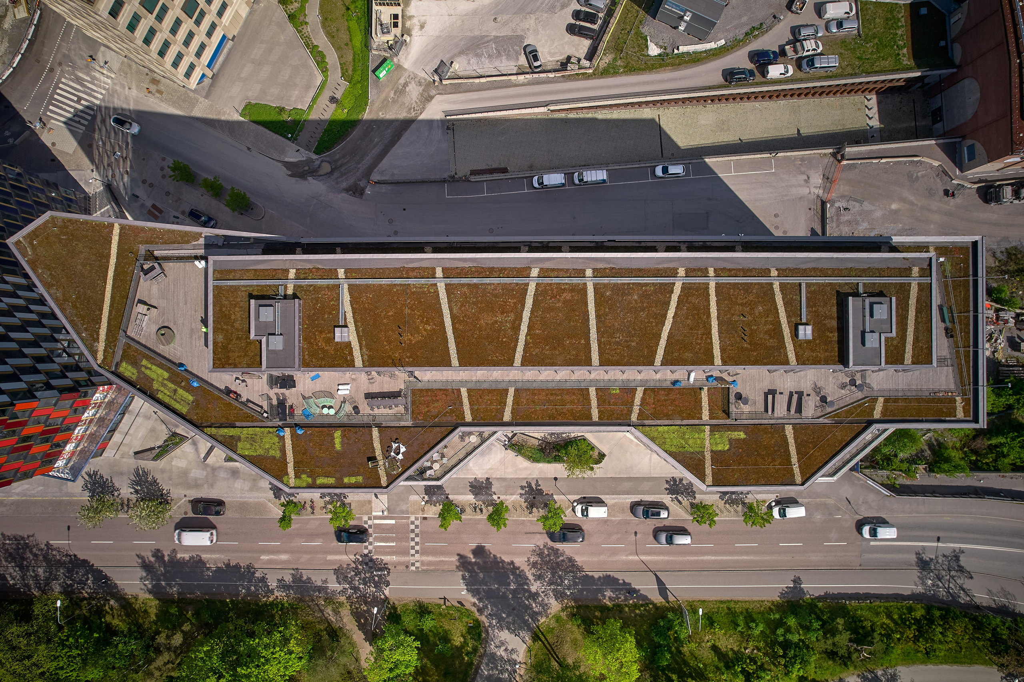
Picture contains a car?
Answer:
Yes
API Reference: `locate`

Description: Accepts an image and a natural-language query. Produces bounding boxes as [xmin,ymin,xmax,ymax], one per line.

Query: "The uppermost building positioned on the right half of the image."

[651,0,728,46]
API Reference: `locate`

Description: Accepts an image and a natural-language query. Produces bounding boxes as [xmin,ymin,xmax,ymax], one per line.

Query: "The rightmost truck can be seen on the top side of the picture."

[991,183,1024,205]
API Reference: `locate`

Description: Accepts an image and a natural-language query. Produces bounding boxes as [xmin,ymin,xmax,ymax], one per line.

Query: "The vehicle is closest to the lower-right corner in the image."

[860,523,899,540]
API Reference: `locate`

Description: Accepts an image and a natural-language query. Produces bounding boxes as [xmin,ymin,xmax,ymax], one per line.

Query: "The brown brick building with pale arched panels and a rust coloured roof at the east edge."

[931,0,1024,173]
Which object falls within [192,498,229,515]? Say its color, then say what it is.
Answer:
black car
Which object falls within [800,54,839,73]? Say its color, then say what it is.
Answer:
gray vehicle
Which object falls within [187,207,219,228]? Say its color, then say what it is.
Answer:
black car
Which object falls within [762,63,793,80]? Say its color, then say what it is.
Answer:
white vehicle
